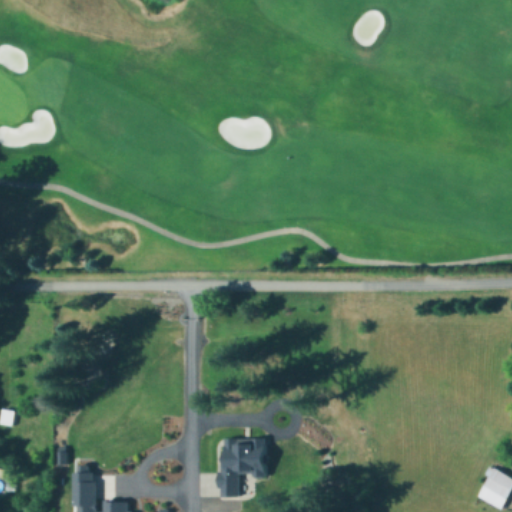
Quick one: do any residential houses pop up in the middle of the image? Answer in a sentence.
No, the scene shows no residential house in the middle of the image.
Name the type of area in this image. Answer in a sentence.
This looks like a golf course.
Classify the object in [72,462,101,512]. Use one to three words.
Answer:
house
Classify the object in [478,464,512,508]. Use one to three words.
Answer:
barn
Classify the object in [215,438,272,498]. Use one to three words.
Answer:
house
